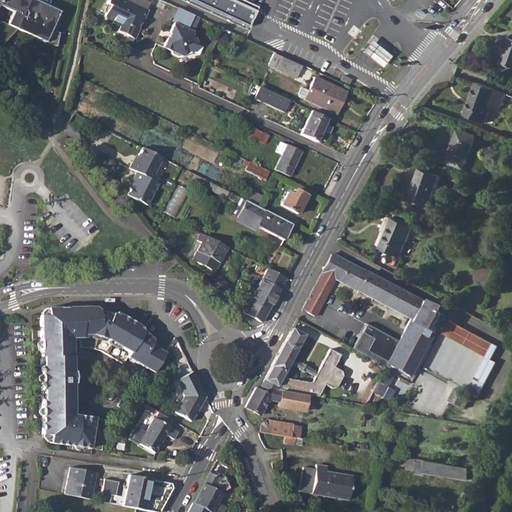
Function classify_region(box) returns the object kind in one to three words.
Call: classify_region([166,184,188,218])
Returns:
greenhouse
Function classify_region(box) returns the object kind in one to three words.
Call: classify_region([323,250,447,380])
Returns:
building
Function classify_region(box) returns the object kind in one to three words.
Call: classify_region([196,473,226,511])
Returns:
house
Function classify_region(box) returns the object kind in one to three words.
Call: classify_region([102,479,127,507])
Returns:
shed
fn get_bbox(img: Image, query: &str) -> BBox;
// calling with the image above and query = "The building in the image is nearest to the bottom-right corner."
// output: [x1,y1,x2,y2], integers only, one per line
[403,459,467,481]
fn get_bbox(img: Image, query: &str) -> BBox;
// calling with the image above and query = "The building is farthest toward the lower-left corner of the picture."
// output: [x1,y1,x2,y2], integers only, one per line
[63,466,99,500]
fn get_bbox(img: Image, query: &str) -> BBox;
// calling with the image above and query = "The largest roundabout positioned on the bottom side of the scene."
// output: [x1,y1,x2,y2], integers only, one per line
[197,328,266,394]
